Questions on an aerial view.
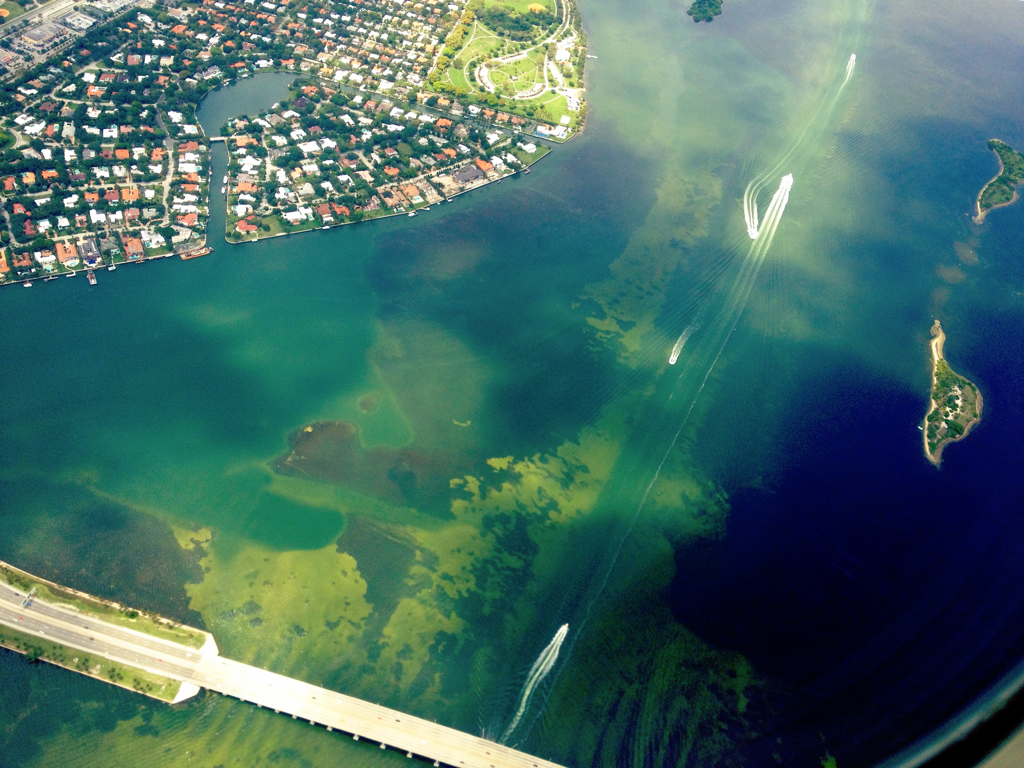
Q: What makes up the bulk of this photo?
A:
water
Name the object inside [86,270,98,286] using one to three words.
ship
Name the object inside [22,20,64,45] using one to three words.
building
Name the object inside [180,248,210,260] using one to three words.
ship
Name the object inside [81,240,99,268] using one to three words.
house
